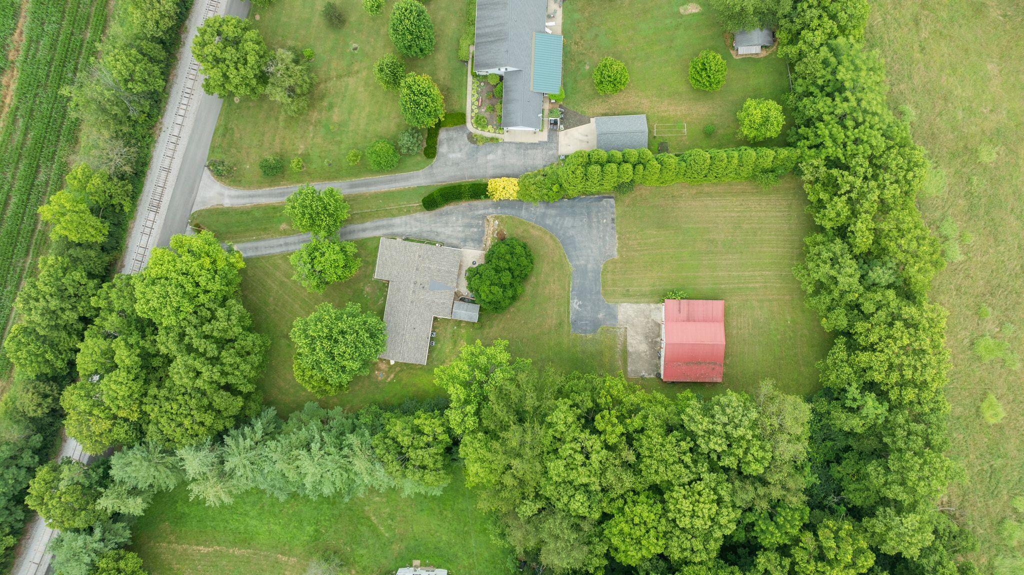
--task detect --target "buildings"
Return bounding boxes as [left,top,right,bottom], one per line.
[396,568,448,575]
[660,299,729,384]
[374,236,462,365]
[594,114,649,152]
[473,0,563,131]
[732,13,774,60]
